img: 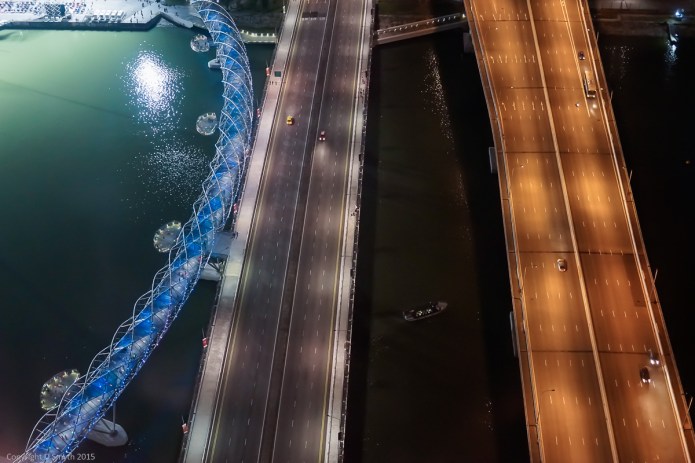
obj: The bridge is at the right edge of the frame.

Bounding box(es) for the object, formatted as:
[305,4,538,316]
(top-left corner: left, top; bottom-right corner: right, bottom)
[462,0,695,463]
